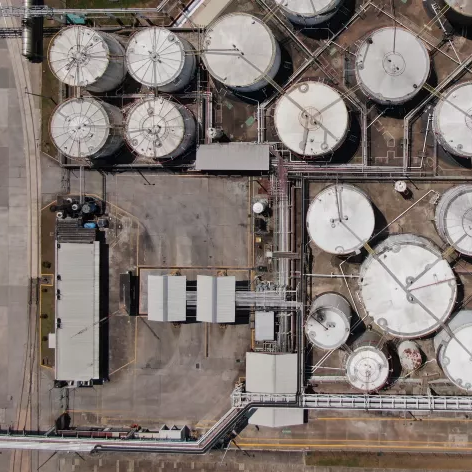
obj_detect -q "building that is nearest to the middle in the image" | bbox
[255,309,274,340]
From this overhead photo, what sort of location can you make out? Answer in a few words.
industrial area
